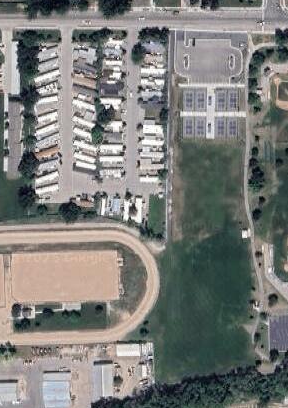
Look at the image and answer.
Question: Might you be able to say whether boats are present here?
No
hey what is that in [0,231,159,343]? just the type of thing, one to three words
race track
